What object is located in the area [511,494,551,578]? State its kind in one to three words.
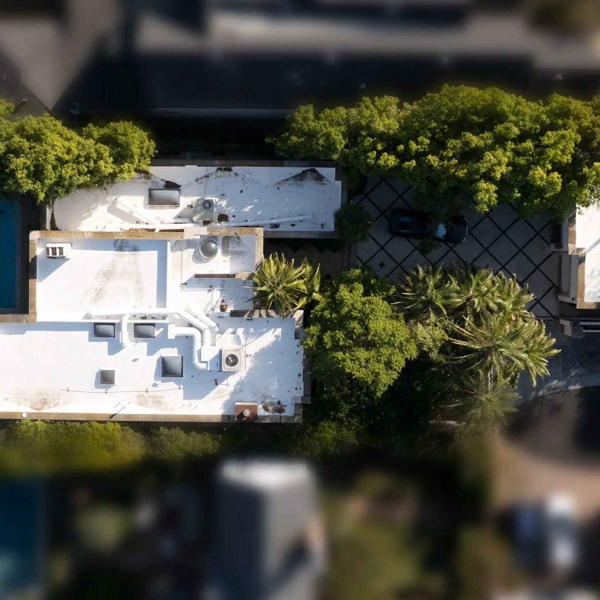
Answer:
car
